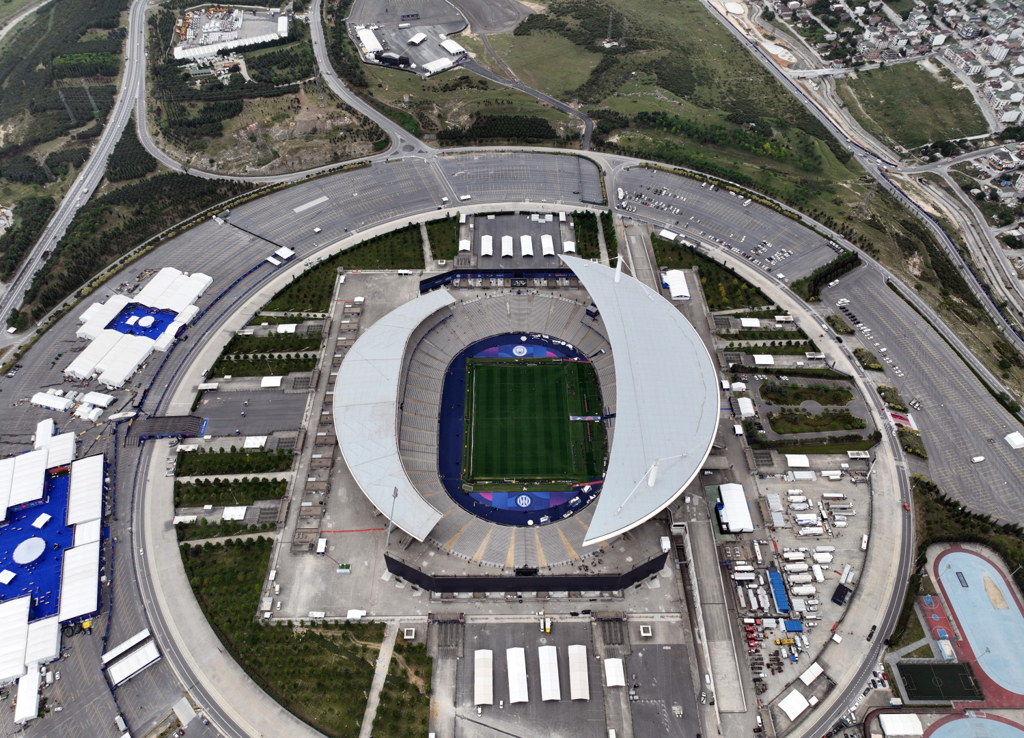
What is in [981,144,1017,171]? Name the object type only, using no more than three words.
house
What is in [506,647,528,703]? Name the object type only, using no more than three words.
tent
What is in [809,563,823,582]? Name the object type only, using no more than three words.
vehicle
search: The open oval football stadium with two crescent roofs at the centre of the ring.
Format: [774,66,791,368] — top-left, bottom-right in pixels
[261,254,768,626]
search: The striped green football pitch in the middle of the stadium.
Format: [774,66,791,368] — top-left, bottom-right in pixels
[461,357,606,492]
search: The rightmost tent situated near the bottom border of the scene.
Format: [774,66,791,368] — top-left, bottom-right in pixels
[875,713,923,738]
